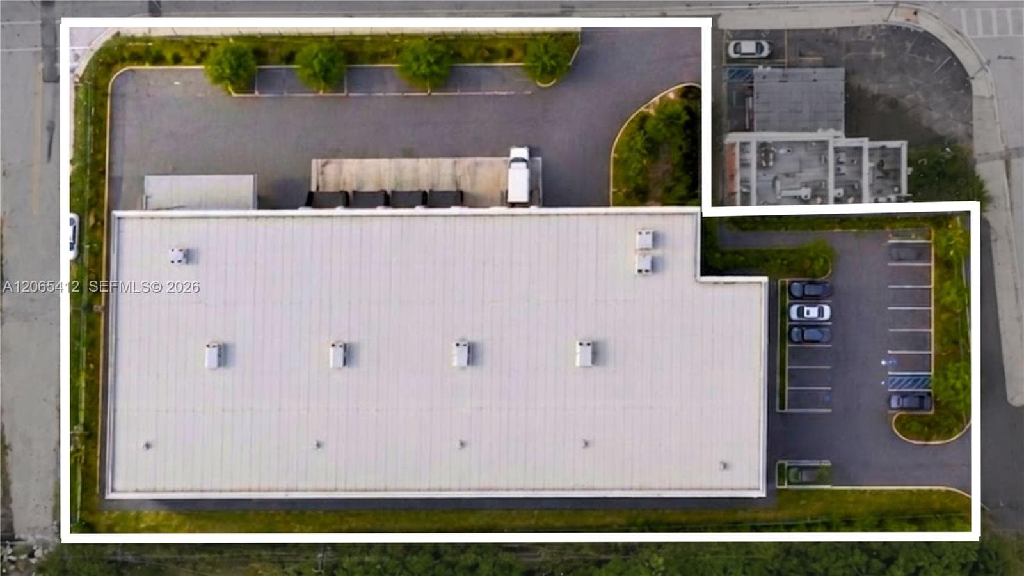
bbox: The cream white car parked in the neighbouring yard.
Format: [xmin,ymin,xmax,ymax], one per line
[727,38,769,59]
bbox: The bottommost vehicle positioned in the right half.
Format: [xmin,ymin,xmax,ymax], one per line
[787,466,826,485]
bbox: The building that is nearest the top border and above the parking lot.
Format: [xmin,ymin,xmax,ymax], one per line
[744,68,846,139]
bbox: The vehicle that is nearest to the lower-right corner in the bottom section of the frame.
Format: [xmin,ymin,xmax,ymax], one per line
[886,393,931,413]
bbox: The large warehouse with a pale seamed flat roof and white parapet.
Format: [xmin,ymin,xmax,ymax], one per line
[106,206,768,500]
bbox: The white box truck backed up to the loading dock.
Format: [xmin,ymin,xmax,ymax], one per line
[507,147,530,208]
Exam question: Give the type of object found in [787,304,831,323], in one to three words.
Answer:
car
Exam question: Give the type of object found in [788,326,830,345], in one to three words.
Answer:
car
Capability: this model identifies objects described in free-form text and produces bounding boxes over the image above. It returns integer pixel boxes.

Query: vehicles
[788,326,830,345]
[507,147,530,208]
[886,393,931,413]
[886,243,927,262]
[787,280,831,300]
[59,214,82,258]
[787,466,826,485]
[787,304,831,323]
[727,38,769,59]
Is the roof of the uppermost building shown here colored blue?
No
